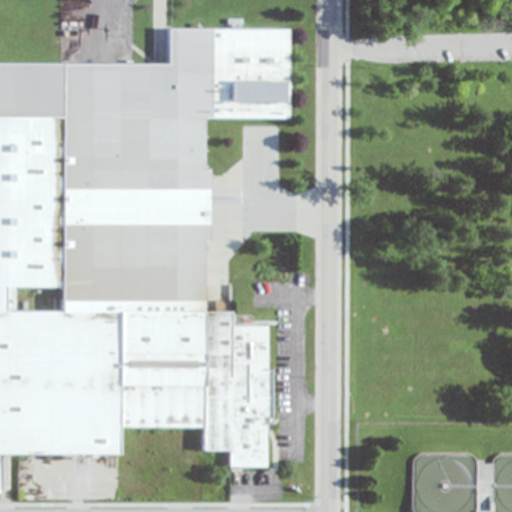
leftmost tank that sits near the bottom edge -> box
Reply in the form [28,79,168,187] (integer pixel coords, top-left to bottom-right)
[412,453,476,512]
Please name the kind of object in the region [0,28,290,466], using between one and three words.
building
